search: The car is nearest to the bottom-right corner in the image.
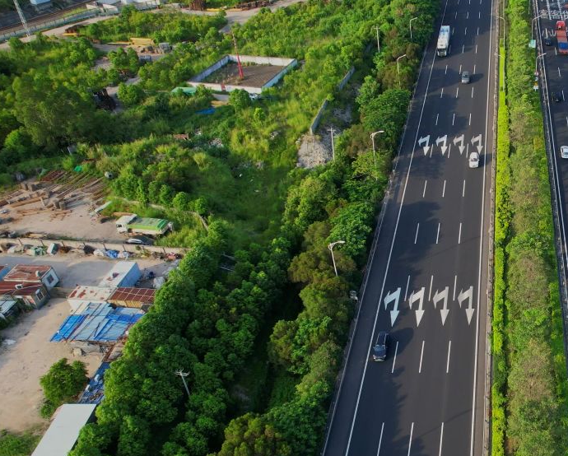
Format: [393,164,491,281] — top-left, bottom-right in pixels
[372,330,390,359]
